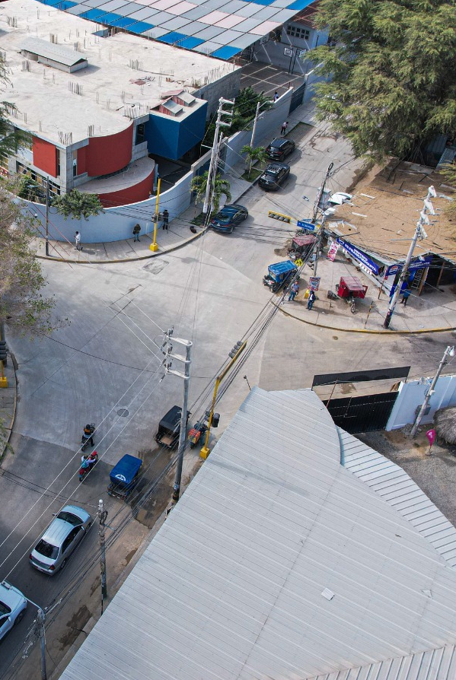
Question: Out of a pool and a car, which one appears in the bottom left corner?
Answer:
car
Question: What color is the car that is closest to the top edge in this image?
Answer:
black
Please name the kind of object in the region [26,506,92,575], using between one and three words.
car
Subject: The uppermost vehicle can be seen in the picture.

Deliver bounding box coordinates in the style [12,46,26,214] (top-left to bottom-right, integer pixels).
[263,137,298,162]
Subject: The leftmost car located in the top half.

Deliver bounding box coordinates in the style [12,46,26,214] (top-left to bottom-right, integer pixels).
[208,204,250,235]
